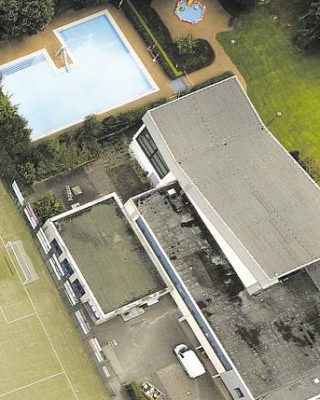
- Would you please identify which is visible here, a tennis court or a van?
van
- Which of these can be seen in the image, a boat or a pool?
pool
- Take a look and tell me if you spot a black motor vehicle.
No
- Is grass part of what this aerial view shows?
Yes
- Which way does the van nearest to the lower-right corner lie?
diagonally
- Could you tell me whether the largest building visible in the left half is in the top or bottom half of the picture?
bottom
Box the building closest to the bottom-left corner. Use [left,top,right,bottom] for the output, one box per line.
[43,195,171,327]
